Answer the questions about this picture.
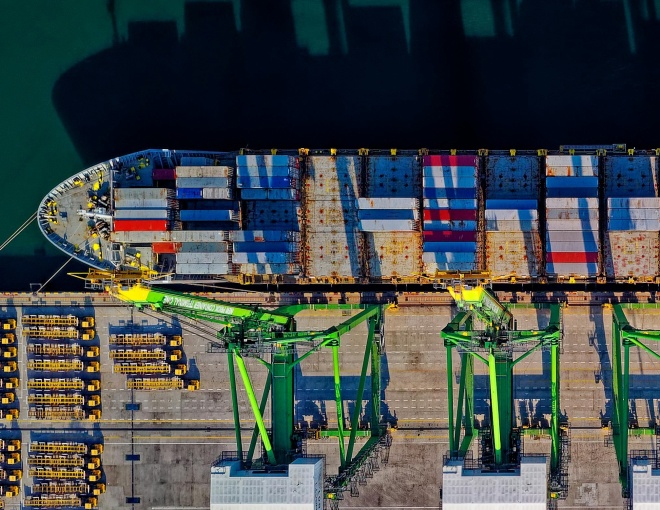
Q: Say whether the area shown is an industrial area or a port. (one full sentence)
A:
What you see here is a port.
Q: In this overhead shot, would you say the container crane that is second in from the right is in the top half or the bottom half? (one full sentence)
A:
The container crane that is second in from the right is in the bottom half of the image.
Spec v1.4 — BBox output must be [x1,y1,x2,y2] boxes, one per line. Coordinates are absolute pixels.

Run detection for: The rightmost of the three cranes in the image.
[594,300,660,510]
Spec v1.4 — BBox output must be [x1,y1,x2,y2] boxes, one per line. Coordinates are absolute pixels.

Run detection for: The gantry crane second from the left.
[421,268,574,510]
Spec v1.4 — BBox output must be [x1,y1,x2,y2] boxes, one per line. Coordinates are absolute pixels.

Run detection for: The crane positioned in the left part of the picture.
[72,268,400,510]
